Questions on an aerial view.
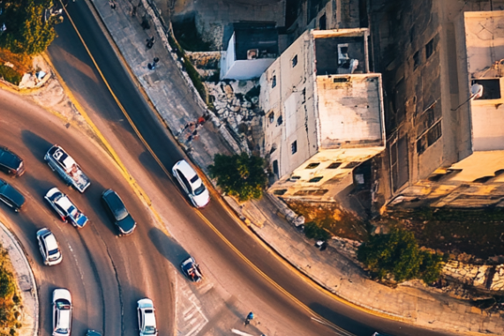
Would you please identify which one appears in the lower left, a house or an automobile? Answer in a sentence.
Visible in the lower left is an automobile.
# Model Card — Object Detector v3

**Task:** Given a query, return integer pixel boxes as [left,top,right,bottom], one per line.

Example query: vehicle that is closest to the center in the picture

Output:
[168,157,212,211]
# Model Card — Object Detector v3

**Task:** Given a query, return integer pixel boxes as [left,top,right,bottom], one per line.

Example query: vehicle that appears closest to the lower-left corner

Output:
[49,289,76,336]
